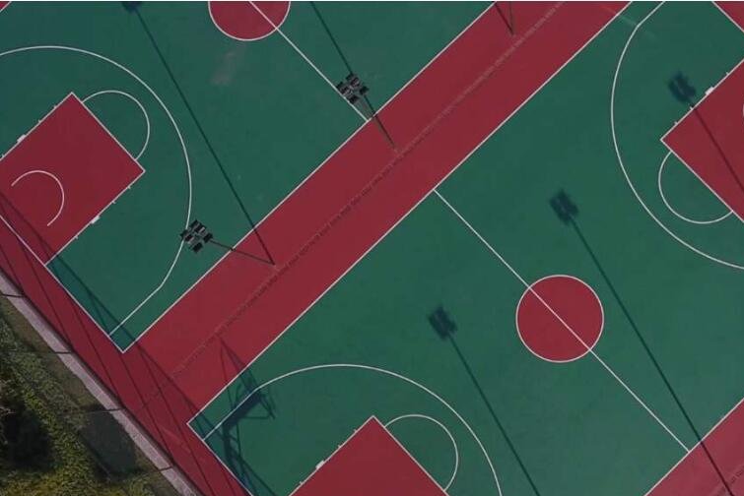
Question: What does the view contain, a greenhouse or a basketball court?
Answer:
basketball court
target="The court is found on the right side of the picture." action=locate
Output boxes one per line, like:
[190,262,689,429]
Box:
[188,0,744,496]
